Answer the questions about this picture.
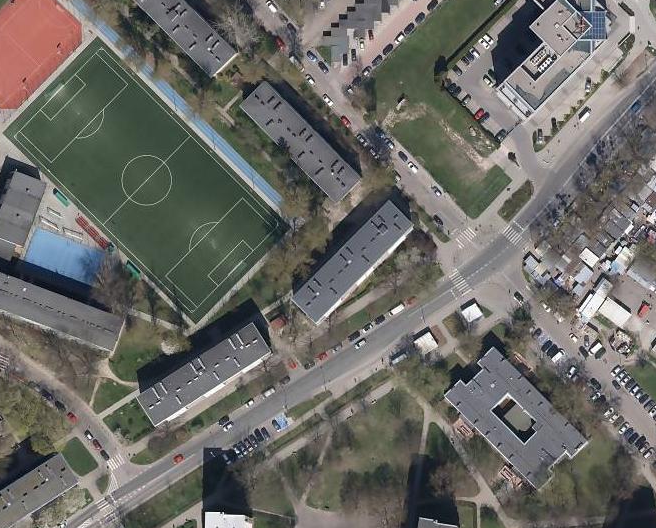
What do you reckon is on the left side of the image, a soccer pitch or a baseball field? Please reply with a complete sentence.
You can see a soccer pitch on the left side of the image.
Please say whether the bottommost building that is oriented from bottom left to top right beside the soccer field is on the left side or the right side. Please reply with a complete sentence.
The bottommost building that is oriented from bottom left to top right beside the soccer field sits on the left side.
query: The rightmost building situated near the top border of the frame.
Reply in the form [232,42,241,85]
[496,0,607,119]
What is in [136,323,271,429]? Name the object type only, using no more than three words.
building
